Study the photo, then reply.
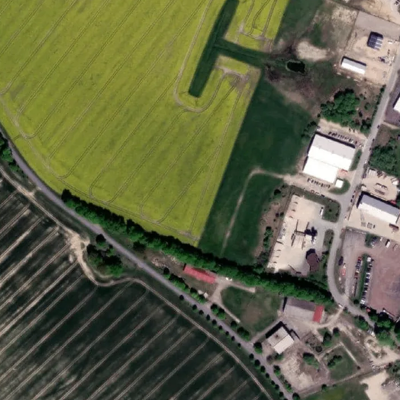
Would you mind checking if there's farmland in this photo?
Yes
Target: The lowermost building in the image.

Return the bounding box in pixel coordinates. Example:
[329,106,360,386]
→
[267,326,297,353]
